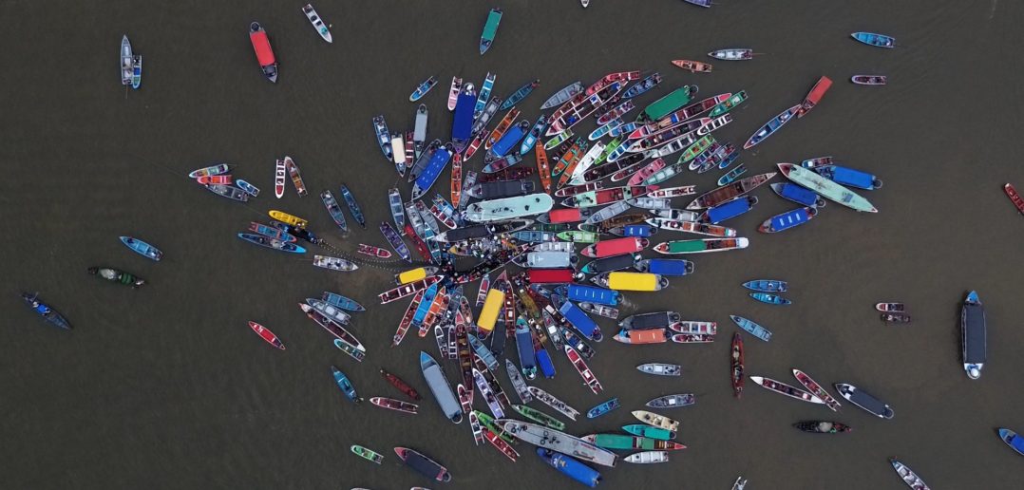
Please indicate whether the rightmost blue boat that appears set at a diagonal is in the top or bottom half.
bottom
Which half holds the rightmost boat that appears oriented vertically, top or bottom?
bottom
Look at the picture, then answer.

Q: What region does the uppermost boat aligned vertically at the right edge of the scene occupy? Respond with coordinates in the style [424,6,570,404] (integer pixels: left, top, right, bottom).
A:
[961,291,984,374]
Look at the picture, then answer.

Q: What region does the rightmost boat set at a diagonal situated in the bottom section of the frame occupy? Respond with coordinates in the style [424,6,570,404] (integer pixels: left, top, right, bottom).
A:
[998,428,1024,451]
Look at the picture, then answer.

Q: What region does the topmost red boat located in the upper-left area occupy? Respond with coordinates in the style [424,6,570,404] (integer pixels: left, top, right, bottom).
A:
[250,25,278,82]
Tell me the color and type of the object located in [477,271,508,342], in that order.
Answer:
yellow boat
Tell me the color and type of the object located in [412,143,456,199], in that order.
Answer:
blue boat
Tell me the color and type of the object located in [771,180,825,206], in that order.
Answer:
blue boat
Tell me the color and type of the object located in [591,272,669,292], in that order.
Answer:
yellow boat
